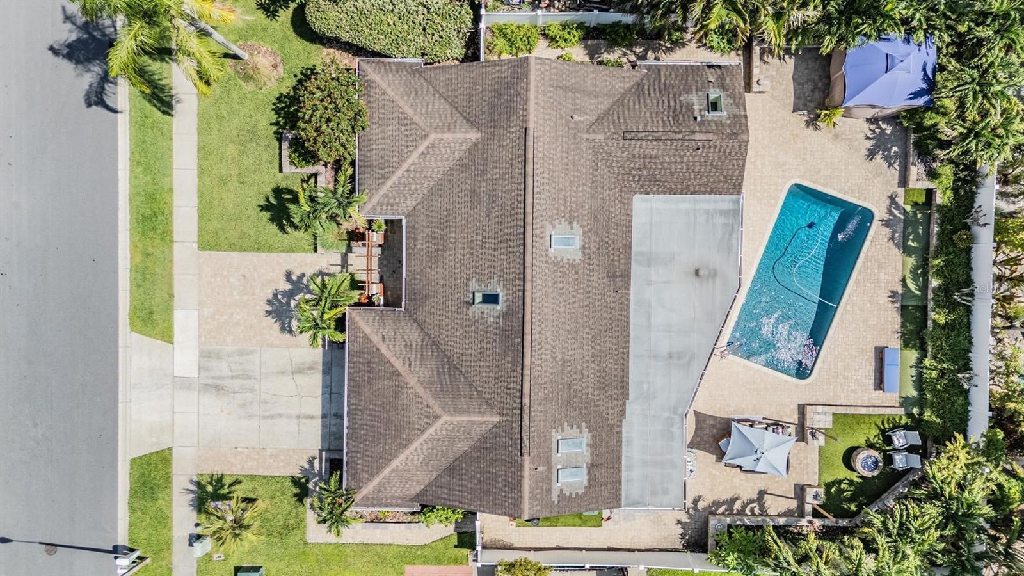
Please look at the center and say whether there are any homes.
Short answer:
Yes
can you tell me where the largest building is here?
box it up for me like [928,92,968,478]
[342,56,750,520]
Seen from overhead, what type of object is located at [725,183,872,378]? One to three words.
swimming pool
